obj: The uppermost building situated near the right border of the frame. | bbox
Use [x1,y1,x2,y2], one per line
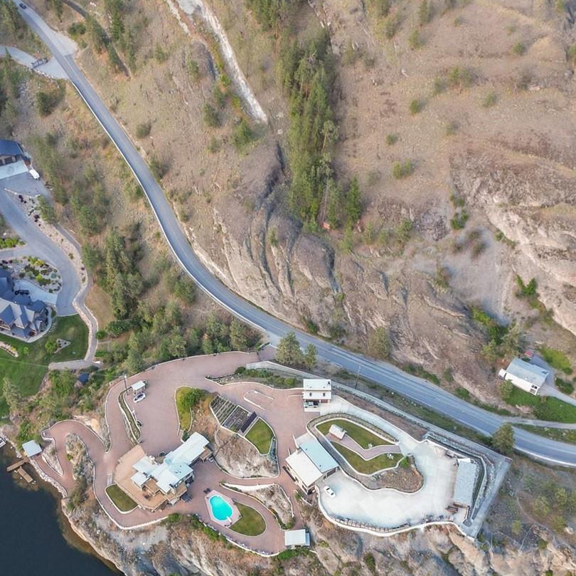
[504,358,549,399]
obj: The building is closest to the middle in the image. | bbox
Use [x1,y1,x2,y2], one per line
[304,379,331,399]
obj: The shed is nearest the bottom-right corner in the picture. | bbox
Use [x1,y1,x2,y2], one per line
[453,458,476,510]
